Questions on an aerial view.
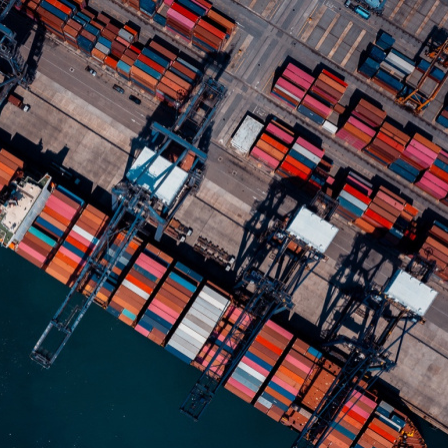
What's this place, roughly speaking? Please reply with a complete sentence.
This looks like a port.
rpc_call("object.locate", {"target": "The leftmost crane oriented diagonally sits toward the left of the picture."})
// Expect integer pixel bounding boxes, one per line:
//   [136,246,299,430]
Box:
[28,77,228,370]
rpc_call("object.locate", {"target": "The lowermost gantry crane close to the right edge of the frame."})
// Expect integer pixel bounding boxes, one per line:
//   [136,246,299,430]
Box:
[284,250,443,448]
